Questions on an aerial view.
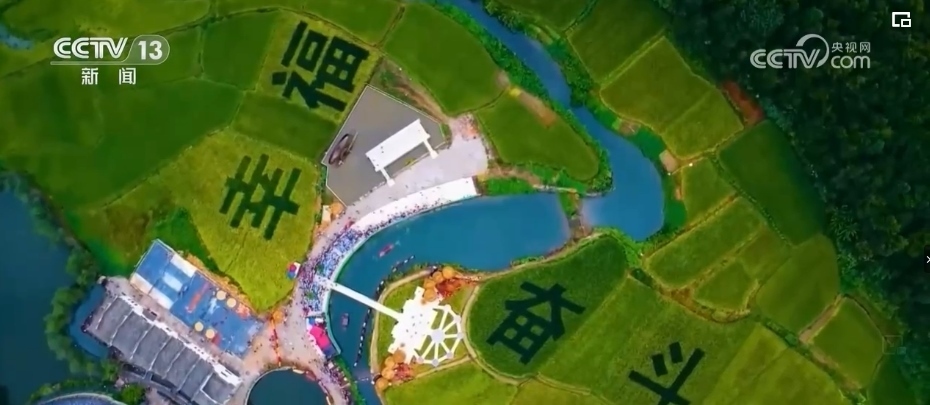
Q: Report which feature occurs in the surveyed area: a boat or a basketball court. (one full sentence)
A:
I can see a boat in this picture.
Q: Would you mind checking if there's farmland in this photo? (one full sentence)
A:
Yes, there is farmland in the image.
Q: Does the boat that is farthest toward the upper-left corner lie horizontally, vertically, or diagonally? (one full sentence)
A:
Seen from above, the boat that is farthest toward the upper-left corner lies diagonally.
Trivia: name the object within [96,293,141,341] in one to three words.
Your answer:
house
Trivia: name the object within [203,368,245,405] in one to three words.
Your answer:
house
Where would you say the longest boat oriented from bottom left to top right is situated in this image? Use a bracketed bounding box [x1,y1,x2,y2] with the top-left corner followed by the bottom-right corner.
[323,129,354,169]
